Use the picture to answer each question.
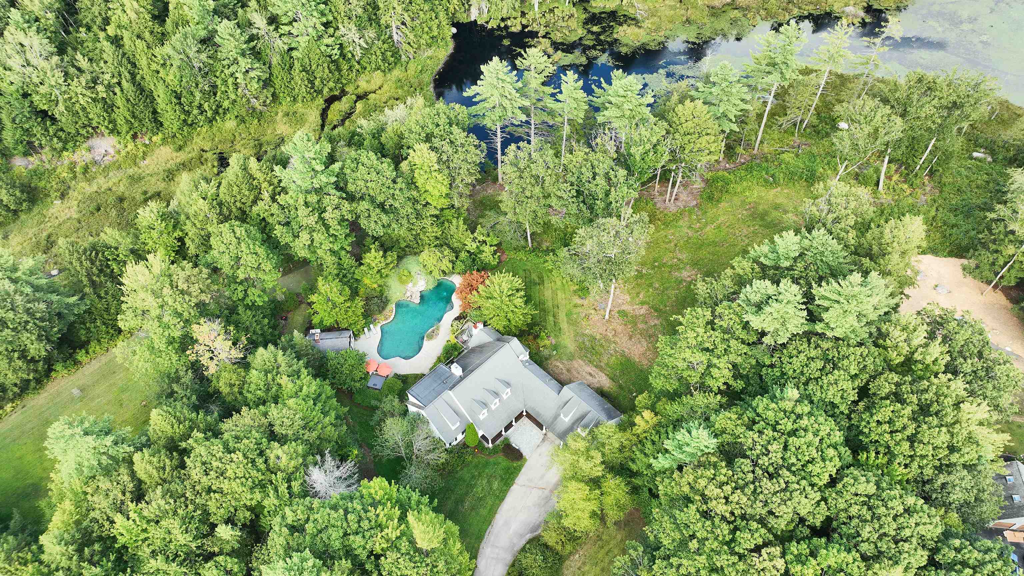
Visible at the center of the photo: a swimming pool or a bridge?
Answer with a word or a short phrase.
swimming pool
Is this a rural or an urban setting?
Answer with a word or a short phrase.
rural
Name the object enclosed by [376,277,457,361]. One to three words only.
swimming pool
